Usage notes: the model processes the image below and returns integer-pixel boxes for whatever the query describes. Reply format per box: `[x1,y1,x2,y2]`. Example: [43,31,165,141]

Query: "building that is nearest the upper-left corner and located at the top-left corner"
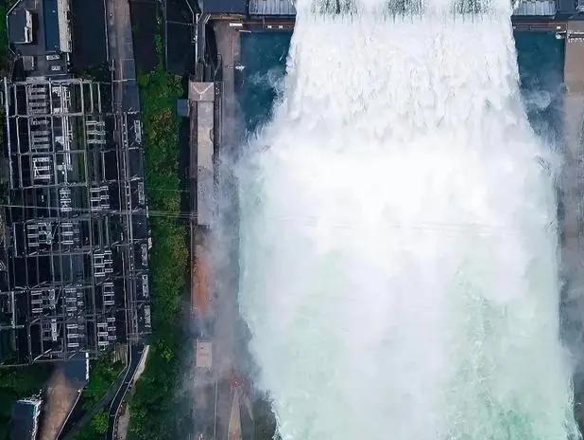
[9,10,35,44]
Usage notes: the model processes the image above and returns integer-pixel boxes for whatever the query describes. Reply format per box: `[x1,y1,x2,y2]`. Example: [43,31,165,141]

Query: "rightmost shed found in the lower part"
[196,340,213,366]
